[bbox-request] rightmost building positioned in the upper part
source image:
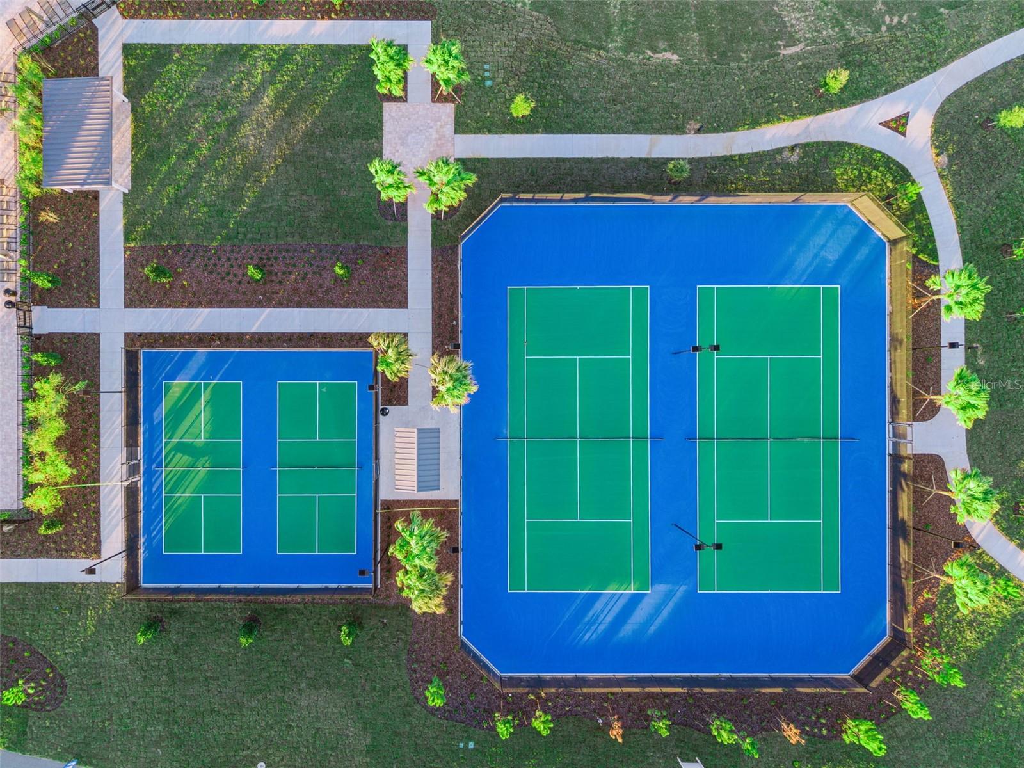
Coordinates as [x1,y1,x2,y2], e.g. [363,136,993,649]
[41,76,129,193]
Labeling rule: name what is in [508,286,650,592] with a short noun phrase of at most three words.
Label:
tennis court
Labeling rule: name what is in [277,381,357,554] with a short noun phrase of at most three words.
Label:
sports court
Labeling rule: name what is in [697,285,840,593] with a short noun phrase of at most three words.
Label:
tennis court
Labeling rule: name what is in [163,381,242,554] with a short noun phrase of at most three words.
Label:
sports court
